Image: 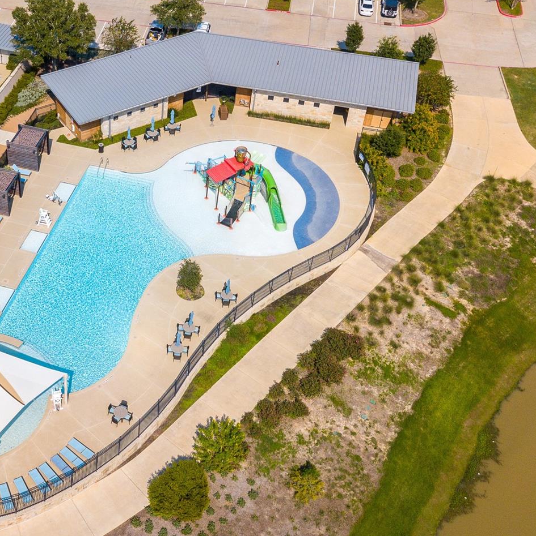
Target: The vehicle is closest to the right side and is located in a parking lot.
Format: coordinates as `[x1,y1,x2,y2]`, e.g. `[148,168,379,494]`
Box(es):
[381,0,399,17]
